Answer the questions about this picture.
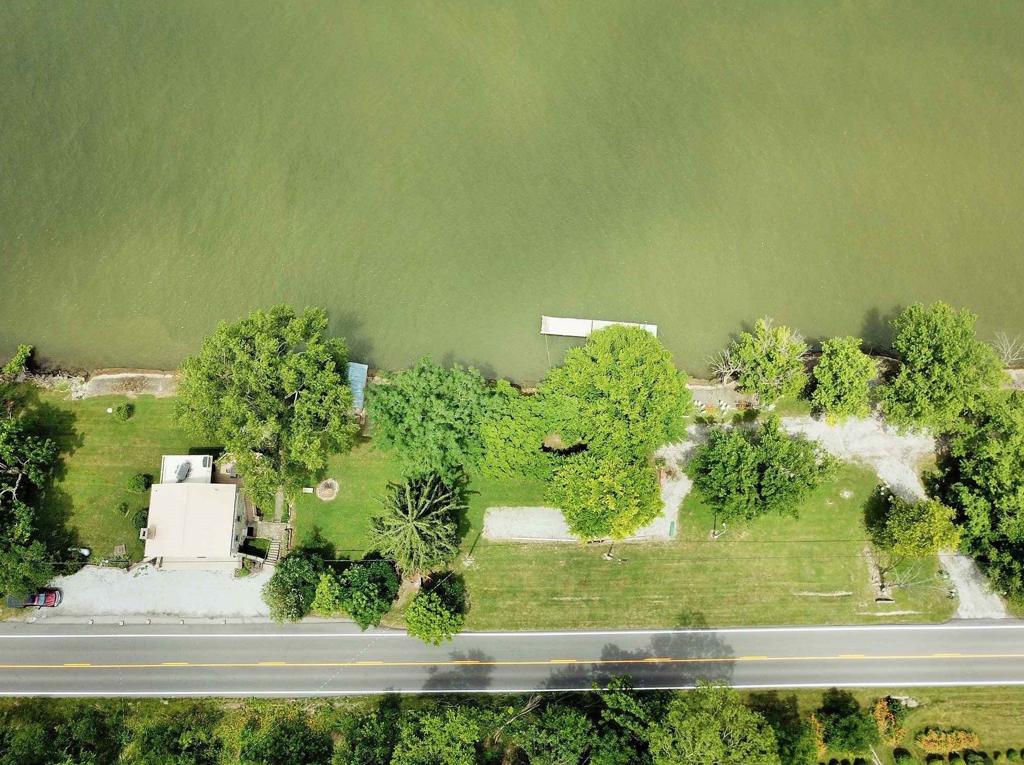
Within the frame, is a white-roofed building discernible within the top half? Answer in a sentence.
No, no white-roofed building appears within the top half.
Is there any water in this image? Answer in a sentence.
Yes, there is water in the image.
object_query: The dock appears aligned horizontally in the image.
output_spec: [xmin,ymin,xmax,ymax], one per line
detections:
[540,316,658,344]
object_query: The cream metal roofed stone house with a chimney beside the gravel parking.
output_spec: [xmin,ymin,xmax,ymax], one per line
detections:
[138,455,245,570]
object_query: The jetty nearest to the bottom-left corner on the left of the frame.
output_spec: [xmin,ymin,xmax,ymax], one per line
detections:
[351,364,367,408]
